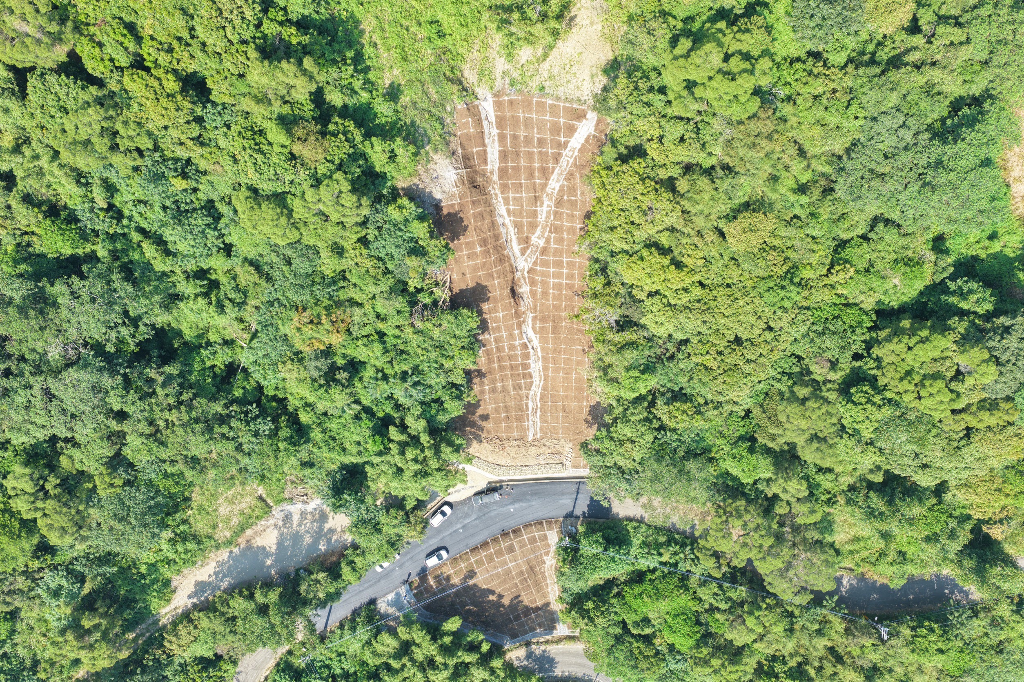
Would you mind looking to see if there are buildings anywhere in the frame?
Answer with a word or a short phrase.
No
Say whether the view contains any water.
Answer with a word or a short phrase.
No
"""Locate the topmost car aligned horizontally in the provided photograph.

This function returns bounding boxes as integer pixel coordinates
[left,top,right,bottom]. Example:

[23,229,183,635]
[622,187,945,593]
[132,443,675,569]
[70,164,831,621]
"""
[471,491,499,506]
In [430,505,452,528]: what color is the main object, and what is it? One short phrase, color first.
white car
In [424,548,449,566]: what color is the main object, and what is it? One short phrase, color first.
white car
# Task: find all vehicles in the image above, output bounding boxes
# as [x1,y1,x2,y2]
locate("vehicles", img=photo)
[424,548,449,566]
[376,552,401,572]
[430,505,452,528]
[471,491,499,506]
